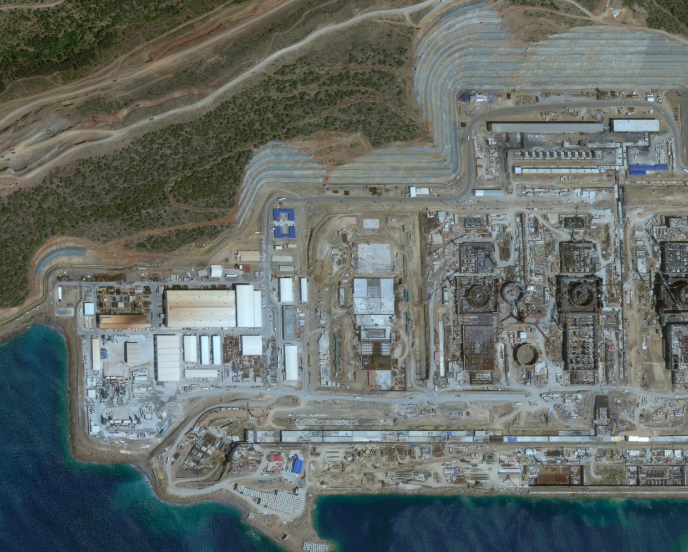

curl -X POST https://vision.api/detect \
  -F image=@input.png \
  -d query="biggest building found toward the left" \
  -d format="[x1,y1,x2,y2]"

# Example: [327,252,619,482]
[164,290,236,327]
